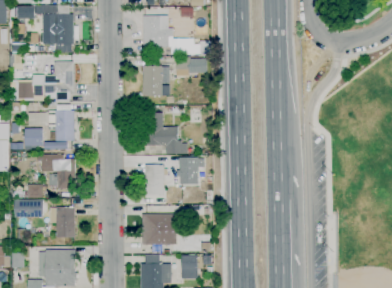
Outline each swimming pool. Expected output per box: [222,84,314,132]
[196,17,206,27]
[18,218,29,228]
